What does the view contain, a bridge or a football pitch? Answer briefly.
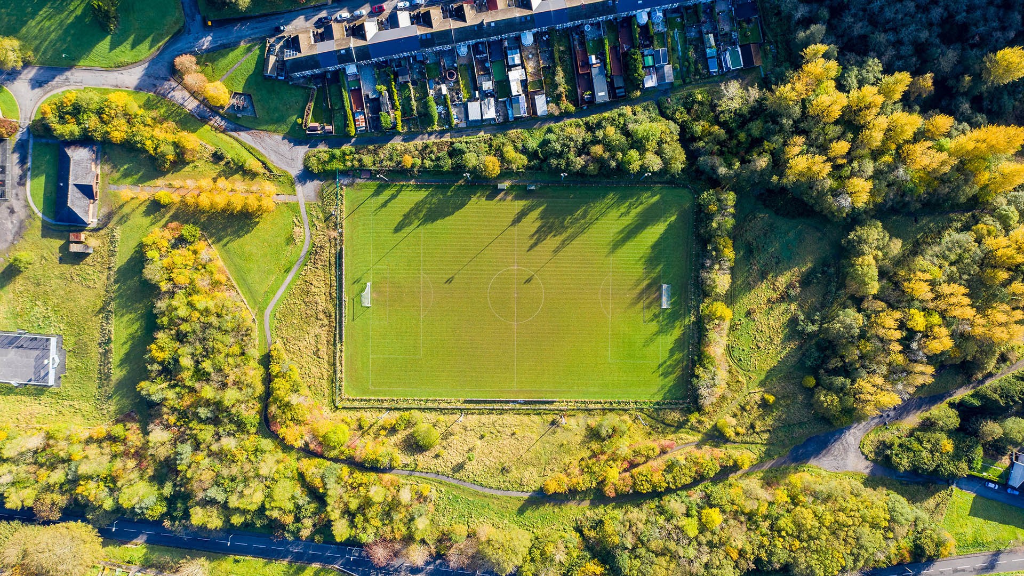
football pitch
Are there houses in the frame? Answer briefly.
Yes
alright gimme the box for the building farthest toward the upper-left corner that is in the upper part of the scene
[55,145,104,225]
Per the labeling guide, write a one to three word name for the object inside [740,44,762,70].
building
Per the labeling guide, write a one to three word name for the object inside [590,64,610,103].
building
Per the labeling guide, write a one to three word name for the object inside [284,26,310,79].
house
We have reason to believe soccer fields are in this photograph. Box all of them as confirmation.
[344,185,694,399]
